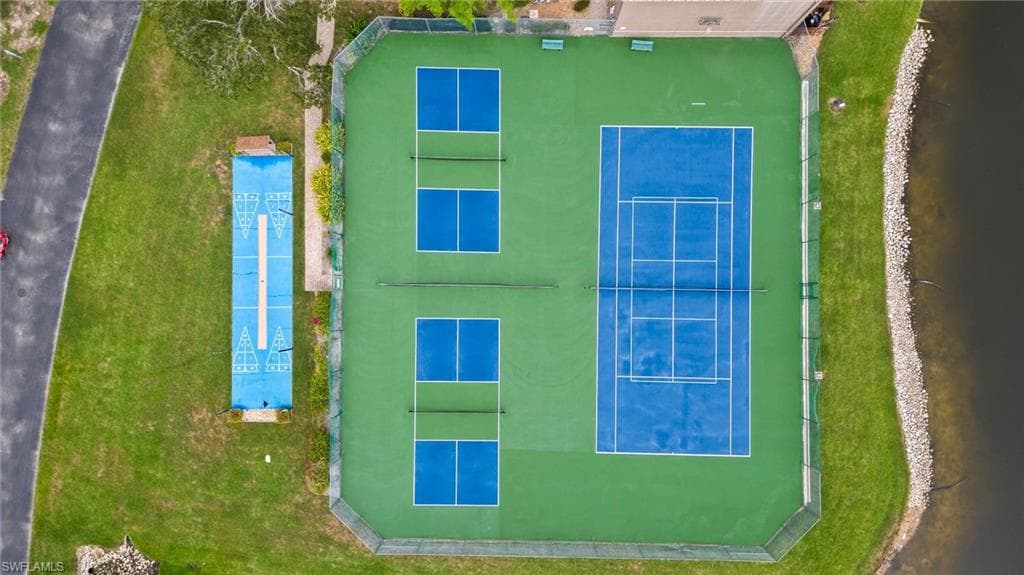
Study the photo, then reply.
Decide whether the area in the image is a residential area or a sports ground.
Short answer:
sports ground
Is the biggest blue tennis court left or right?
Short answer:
right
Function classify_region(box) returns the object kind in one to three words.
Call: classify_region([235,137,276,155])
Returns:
shed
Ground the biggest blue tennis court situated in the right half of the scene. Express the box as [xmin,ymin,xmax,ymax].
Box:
[596,125,753,457]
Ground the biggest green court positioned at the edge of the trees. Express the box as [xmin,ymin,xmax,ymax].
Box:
[342,33,802,546]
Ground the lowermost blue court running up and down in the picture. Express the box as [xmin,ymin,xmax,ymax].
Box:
[413,318,500,506]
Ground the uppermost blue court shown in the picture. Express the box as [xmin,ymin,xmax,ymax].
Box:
[416,67,501,253]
